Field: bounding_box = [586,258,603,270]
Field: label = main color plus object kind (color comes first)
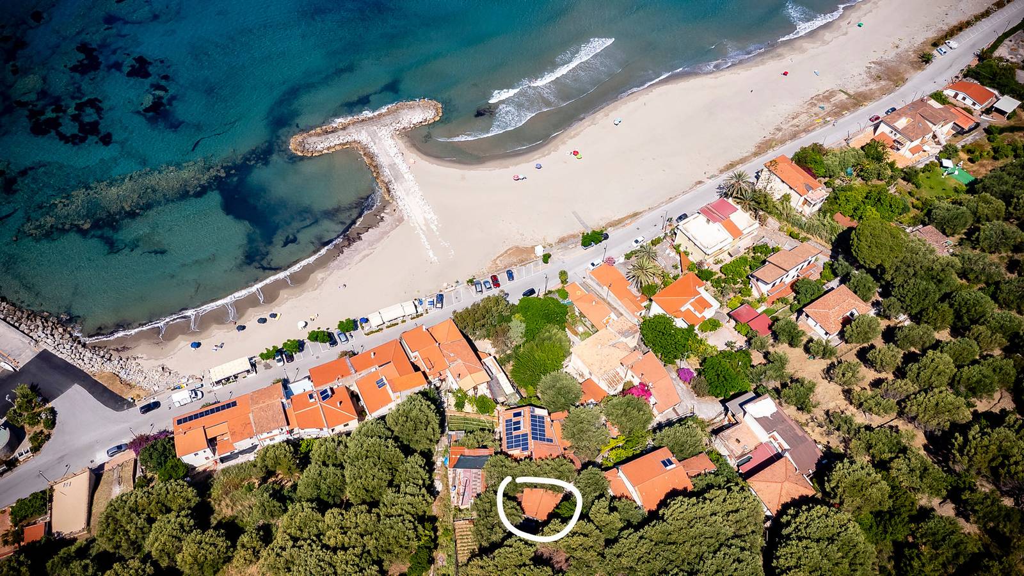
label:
white vehicle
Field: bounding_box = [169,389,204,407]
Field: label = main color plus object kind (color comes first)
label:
white vehicle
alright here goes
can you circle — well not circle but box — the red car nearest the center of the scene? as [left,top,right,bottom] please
[490,275,502,289]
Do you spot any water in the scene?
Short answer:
Yes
